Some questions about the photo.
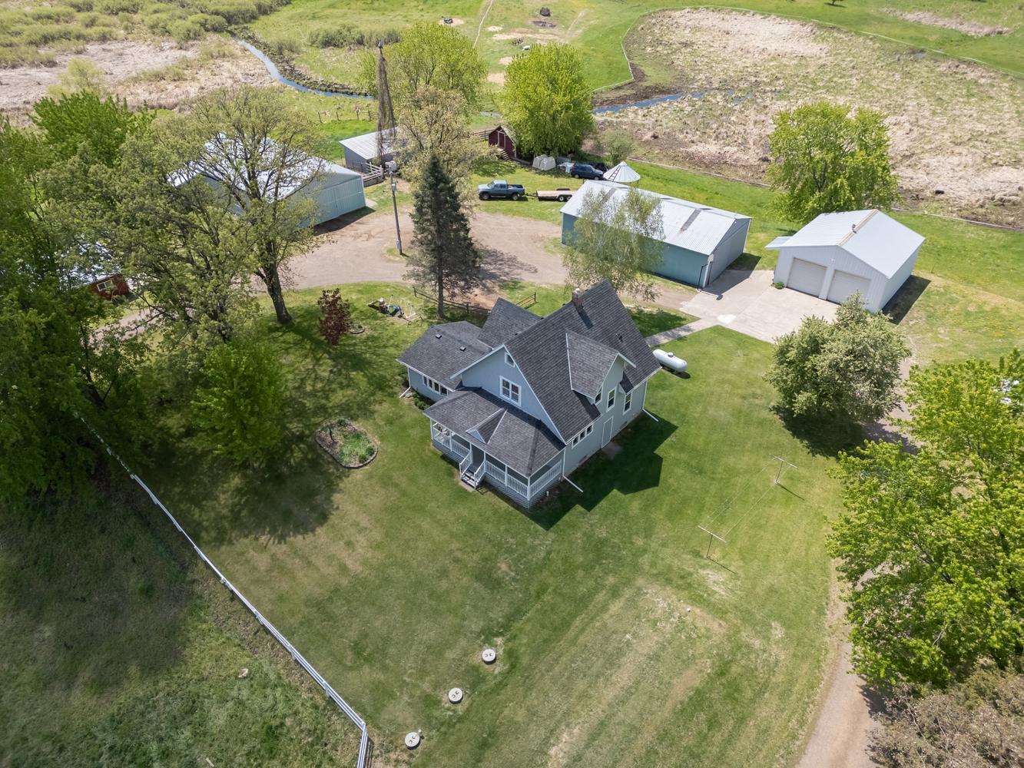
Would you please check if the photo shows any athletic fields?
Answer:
No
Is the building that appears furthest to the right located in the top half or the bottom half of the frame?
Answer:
top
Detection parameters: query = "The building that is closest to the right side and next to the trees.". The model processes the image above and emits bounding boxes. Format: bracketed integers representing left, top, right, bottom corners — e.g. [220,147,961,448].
[764,208,926,314]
